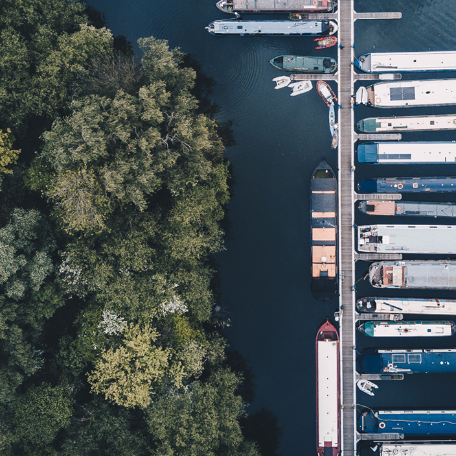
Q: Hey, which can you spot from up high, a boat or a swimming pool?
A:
boat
